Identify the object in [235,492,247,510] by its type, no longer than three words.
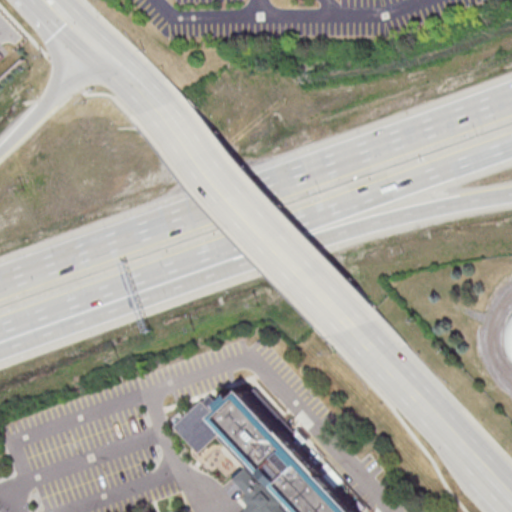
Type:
vehicle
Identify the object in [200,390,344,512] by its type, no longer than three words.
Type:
building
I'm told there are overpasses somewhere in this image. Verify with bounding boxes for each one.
[132,99,383,338]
